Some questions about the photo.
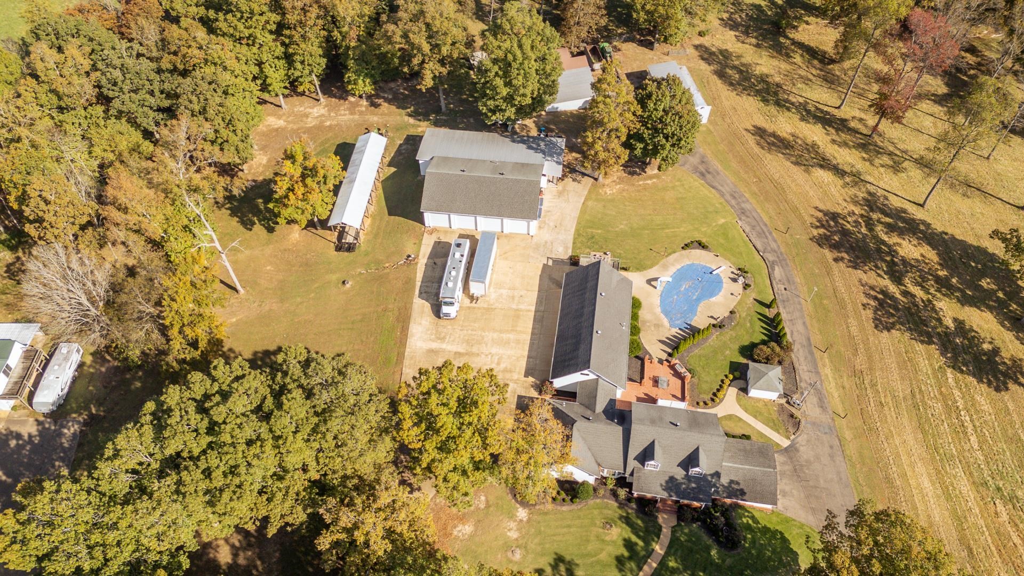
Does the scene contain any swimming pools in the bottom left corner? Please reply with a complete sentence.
No, I can find no swimming pool in the bottom left corner.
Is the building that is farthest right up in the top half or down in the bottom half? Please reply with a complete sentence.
Seen from above, the building that is farthest right lies in the bottom half of the view.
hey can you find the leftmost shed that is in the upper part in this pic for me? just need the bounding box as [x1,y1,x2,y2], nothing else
[328,132,388,241]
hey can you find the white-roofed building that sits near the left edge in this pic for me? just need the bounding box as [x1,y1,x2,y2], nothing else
[0,325,51,404]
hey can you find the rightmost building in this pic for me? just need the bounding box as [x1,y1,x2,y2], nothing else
[747,362,783,400]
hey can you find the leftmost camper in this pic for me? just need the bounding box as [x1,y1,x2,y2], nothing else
[34,344,87,413]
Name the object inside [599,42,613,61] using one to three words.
work vehicle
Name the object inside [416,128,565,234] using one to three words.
building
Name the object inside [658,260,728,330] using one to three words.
swimming pool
